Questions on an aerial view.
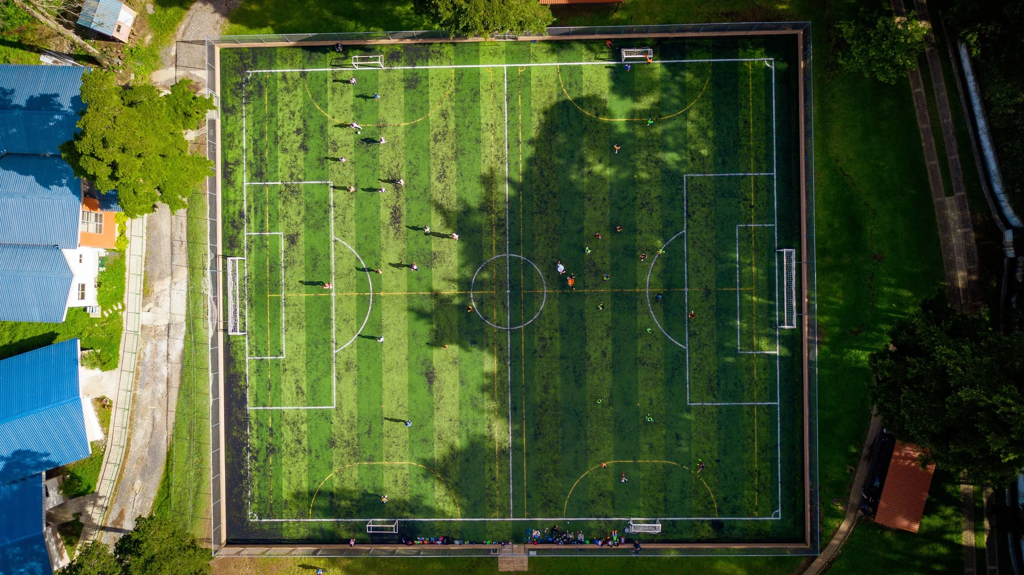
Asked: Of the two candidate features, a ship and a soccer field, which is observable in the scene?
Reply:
soccer field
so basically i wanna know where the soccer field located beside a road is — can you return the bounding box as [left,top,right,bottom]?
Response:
[222,34,806,546]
